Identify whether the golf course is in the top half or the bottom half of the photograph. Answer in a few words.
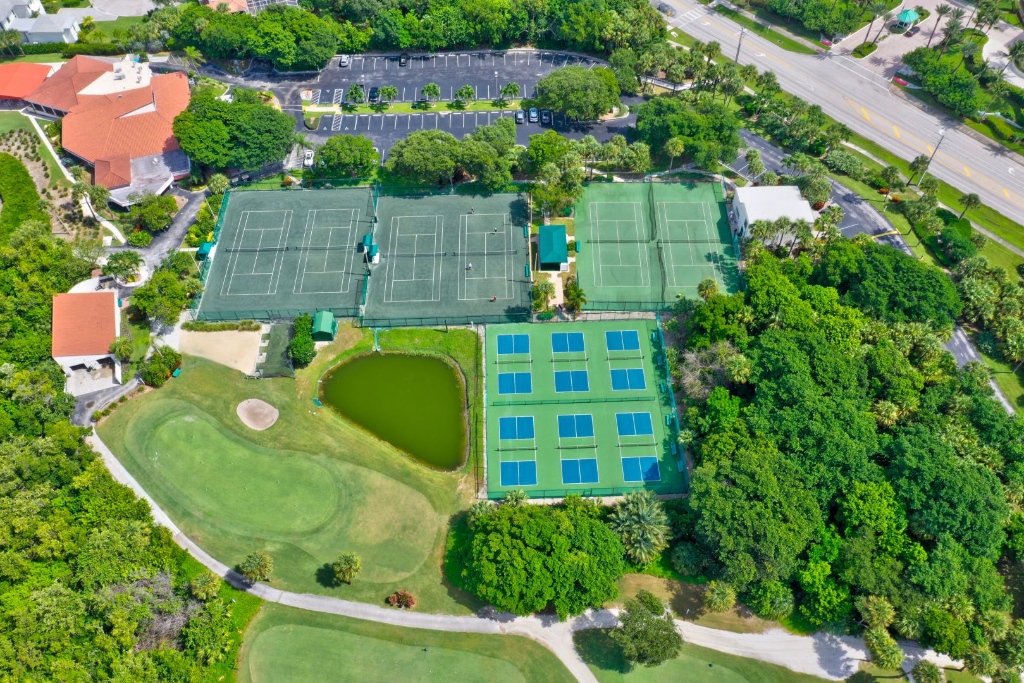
bottom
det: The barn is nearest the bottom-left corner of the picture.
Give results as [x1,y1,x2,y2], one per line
[52,292,123,393]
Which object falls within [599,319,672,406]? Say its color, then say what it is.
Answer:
green sports court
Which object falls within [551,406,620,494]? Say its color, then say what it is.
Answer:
green sports court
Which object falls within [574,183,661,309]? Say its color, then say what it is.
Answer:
green tennis court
